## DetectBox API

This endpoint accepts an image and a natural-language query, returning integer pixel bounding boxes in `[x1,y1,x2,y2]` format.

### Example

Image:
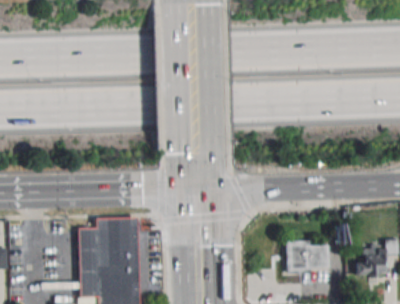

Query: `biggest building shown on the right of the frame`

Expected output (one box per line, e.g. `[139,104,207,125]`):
[285,240,330,273]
